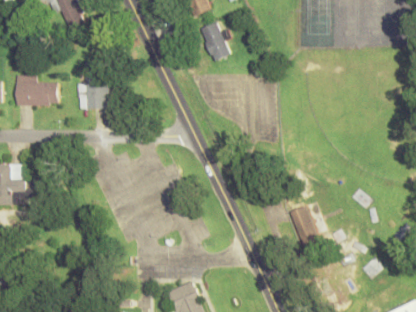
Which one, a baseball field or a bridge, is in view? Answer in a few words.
baseball field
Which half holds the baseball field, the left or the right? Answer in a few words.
right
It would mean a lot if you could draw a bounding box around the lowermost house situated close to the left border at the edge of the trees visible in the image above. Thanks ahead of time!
[0,164,28,206]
